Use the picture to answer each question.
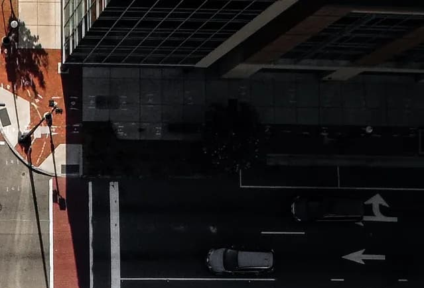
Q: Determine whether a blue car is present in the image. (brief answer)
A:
No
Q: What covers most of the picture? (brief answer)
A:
paved ground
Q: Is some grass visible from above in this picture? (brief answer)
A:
No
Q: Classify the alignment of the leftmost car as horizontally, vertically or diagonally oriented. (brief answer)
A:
horizontally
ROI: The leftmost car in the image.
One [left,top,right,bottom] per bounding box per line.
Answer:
[205,243,276,278]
